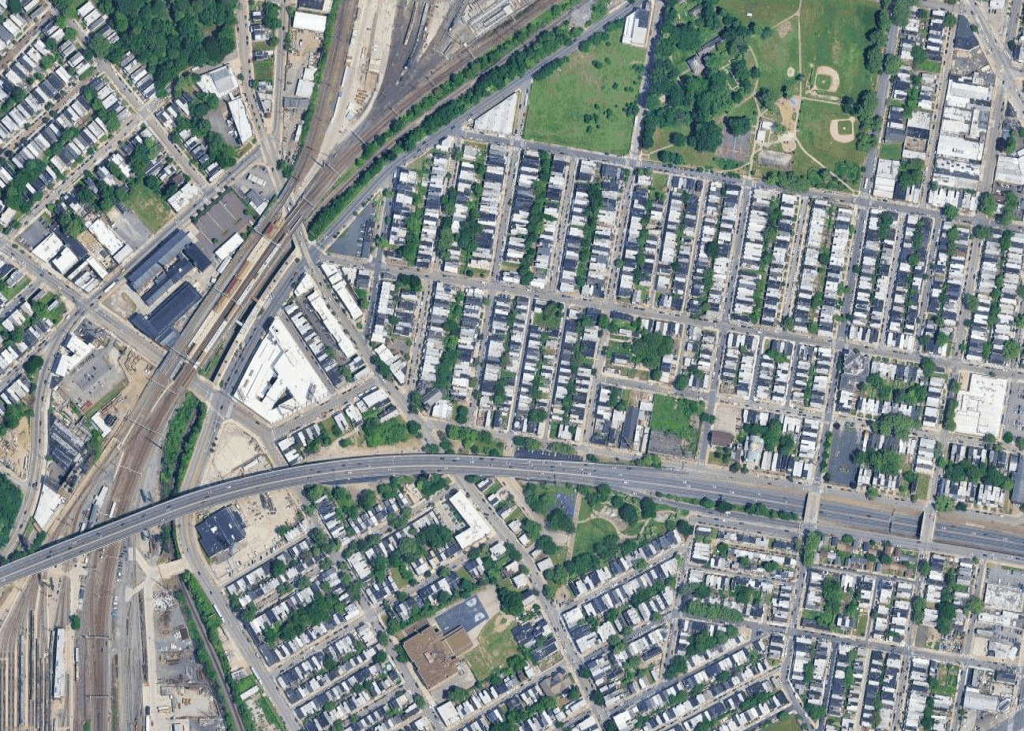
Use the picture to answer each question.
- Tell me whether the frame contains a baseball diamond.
Yes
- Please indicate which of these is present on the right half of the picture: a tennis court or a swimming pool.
tennis court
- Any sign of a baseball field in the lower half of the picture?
No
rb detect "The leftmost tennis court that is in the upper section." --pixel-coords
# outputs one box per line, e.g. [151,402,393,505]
[715,116,751,161]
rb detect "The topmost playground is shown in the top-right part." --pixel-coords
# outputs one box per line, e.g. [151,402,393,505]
[776,95,801,133]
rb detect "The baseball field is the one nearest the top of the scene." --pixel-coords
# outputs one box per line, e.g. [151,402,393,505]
[806,66,839,101]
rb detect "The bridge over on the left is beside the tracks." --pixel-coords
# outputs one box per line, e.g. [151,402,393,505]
[0,455,520,584]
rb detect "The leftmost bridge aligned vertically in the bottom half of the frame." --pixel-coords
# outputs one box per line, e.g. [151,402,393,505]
[803,487,820,528]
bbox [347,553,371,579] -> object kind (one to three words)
building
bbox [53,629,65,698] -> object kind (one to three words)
shed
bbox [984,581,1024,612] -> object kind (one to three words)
building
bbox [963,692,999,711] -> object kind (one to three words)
shed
